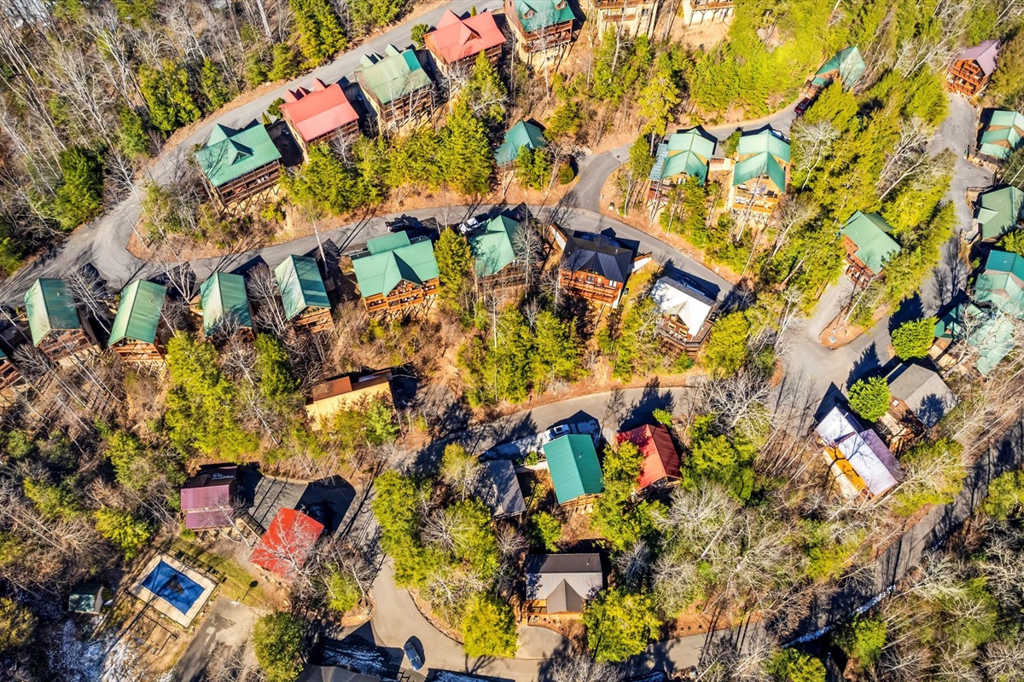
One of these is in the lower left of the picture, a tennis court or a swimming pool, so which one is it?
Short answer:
swimming pool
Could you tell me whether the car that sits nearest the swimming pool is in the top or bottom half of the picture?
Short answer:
bottom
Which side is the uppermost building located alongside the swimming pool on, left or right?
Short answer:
left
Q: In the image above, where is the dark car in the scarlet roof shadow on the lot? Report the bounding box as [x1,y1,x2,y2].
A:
[307,504,339,526]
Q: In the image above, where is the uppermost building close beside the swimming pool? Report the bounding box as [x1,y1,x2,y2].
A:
[180,466,244,537]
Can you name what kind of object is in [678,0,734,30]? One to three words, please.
building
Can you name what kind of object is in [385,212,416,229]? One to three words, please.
vehicle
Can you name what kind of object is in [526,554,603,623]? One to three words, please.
building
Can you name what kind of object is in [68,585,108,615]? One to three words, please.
shed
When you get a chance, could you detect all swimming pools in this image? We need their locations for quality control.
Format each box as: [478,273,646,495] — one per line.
[128,553,217,626]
